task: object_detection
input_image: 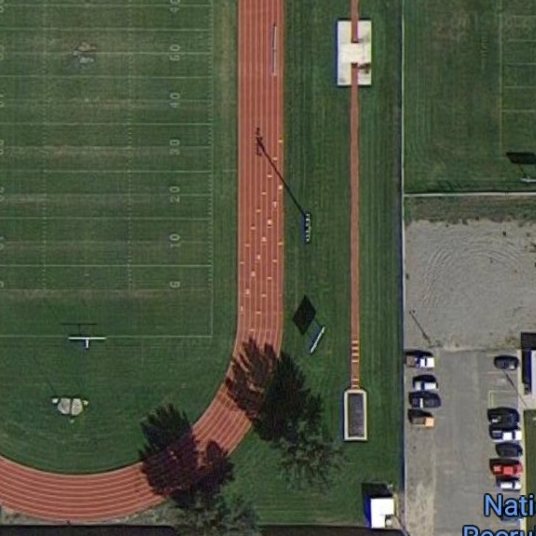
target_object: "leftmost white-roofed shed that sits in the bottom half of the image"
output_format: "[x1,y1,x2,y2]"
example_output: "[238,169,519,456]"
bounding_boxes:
[367,496,395,528]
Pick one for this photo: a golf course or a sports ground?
sports ground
